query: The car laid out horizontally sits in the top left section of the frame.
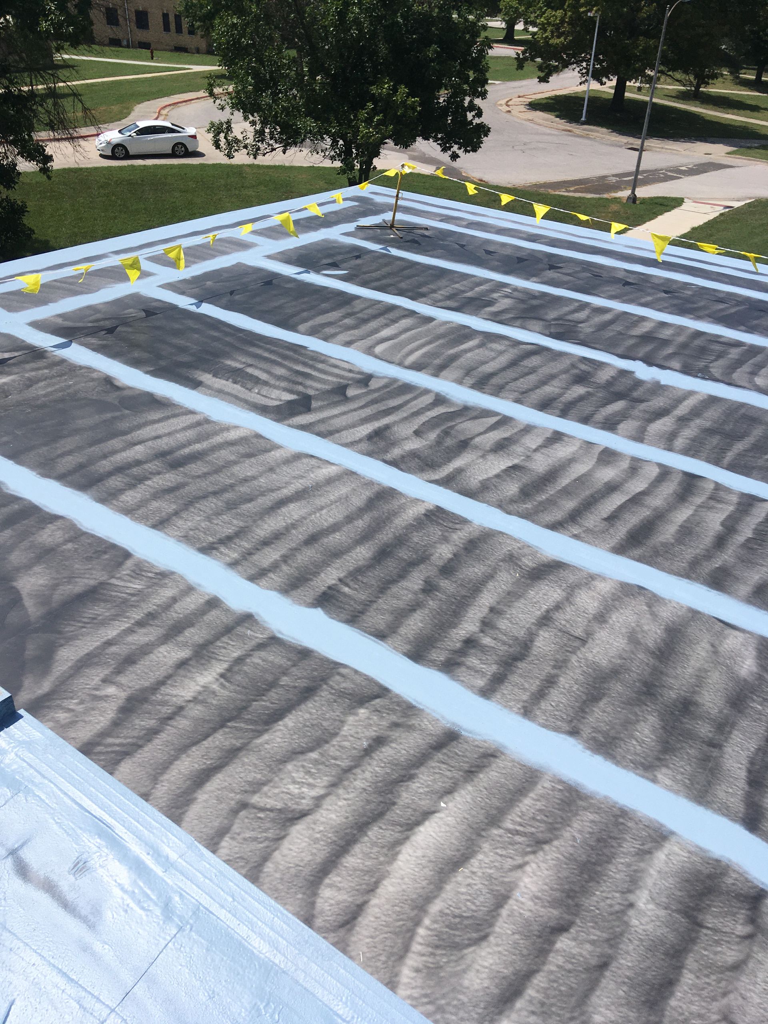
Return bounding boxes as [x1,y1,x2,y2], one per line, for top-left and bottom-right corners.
[87,115,199,156]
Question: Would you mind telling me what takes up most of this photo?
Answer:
buildings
